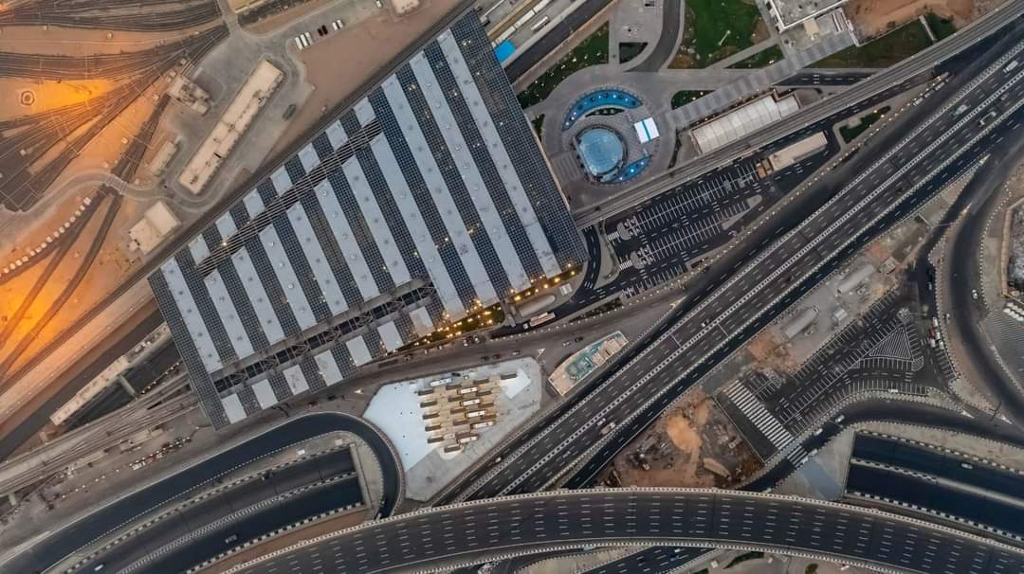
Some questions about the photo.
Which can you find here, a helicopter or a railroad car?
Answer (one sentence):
Of the two, only a railroad car appears.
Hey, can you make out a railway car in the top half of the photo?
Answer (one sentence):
Yes, a railway car appears in the top half of the photo.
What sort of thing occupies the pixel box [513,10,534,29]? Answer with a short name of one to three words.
rail car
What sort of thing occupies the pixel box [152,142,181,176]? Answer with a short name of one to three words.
building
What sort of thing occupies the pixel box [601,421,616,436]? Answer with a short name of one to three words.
vehicle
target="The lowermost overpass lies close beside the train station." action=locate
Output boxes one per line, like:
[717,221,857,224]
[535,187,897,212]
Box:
[220,485,1024,574]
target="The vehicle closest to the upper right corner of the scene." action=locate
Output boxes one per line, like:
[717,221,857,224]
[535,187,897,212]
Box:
[1003,59,1020,73]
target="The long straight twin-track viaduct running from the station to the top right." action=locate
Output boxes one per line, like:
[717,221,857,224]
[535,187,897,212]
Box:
[569,0,1024,230]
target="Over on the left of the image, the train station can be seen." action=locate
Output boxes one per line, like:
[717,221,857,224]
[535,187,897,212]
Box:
[148,9,589,431]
